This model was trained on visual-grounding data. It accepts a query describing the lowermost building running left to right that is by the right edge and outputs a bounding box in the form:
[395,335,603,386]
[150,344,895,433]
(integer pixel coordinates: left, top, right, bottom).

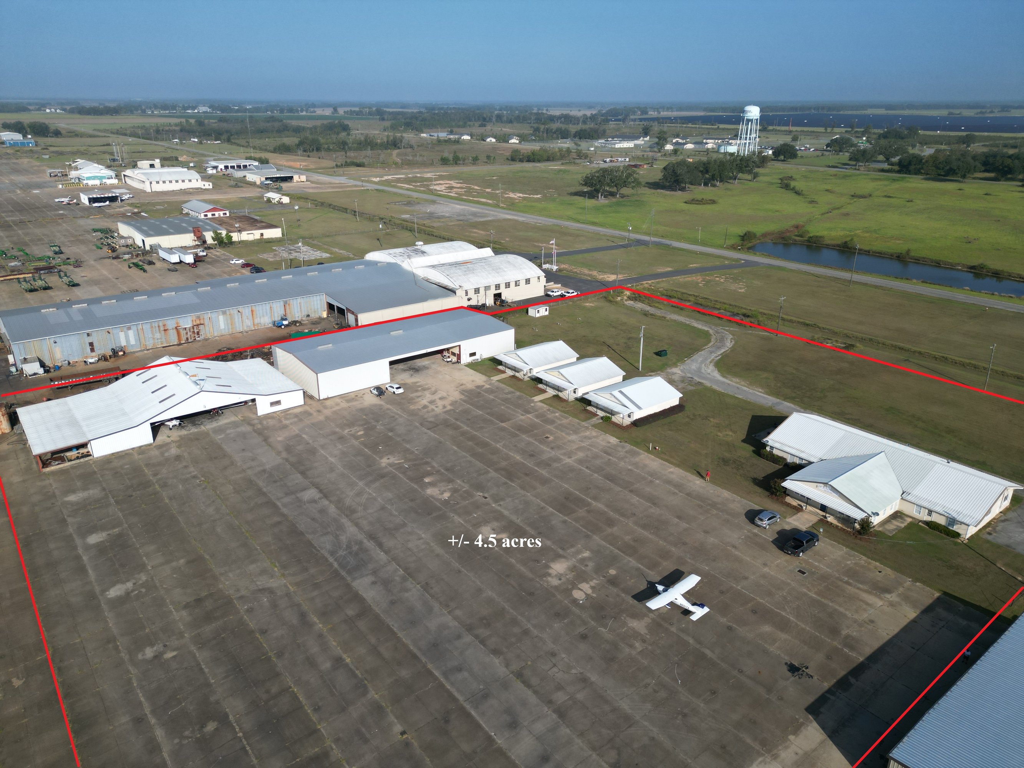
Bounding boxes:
[761,411,1024,538]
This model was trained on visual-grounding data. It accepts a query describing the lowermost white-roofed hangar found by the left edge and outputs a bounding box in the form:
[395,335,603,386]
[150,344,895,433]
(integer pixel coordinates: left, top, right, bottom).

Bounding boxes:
[17,356,304,472]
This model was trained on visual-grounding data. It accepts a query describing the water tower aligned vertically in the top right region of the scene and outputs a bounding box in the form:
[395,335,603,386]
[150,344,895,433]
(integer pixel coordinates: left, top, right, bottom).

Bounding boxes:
[736,106,759,156]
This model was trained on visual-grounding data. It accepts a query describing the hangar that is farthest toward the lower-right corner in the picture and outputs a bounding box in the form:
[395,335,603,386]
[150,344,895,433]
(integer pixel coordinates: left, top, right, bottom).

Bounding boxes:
[887,611,1024,768]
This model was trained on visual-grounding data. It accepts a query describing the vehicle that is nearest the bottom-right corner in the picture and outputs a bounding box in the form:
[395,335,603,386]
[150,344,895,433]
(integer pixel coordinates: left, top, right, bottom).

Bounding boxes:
[786,534,818,555]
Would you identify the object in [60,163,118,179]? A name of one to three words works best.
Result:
building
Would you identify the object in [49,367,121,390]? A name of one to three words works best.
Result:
trailer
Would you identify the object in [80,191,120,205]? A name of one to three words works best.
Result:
hangar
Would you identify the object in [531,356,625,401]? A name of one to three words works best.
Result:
house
